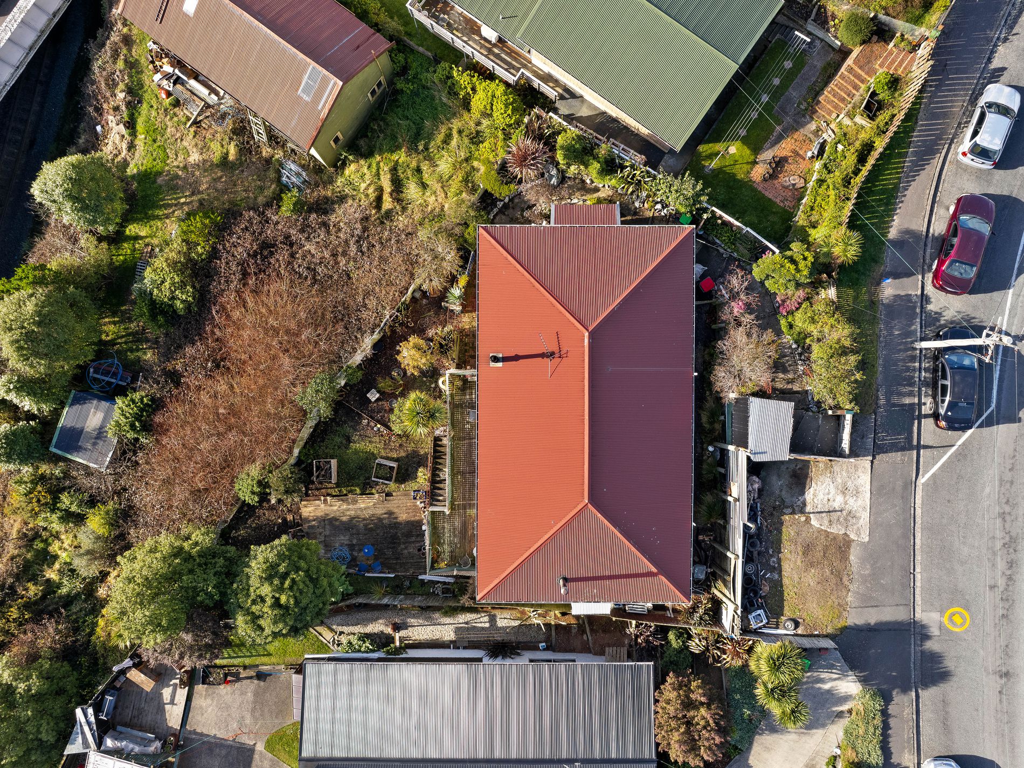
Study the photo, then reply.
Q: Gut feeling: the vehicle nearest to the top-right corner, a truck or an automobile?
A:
automobile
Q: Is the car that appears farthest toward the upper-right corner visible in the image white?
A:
Yes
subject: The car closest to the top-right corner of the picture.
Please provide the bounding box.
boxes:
[957,80,1022,172]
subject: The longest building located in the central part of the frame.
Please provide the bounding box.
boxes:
[474,202,697,615]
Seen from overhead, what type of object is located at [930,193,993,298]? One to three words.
car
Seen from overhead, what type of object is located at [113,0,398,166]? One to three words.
shed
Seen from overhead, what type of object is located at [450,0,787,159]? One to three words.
building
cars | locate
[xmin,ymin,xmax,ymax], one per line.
[930,193,993,298]
[957,80,1022,172]
[931,331,982,430]
[924,759,961,768]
